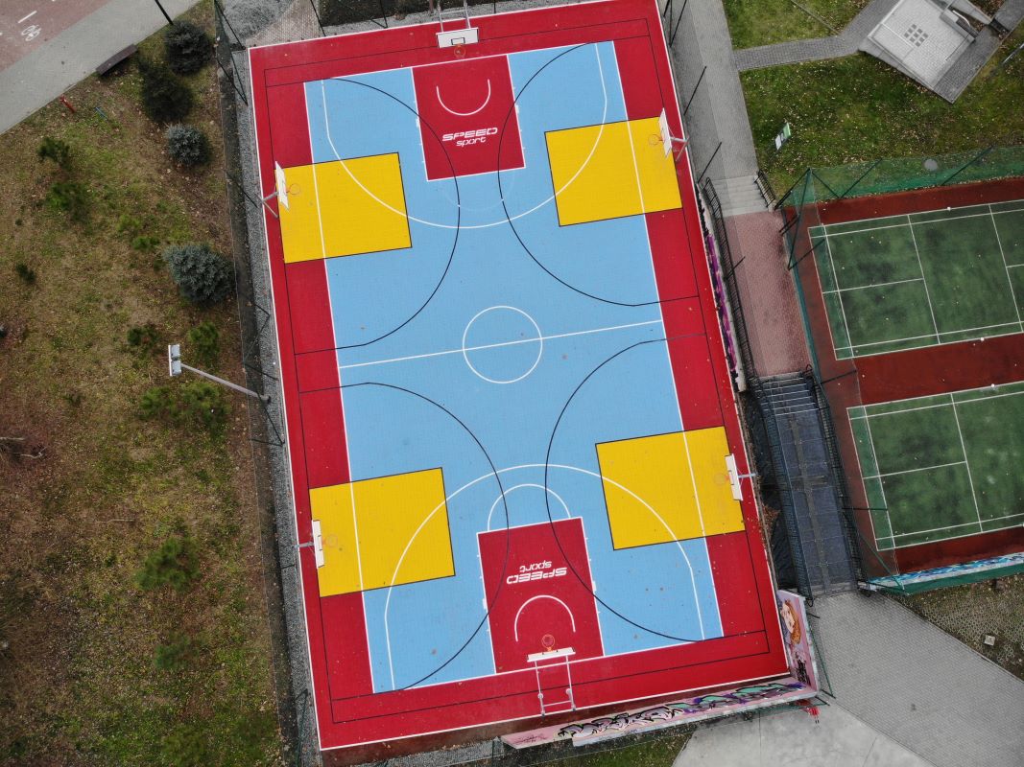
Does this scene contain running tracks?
No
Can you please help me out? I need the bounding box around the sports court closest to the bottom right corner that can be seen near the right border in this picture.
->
[847,382,1024,551]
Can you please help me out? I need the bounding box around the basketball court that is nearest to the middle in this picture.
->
[249,0,791,750]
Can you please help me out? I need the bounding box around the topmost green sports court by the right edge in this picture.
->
[808,198,1024,360]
